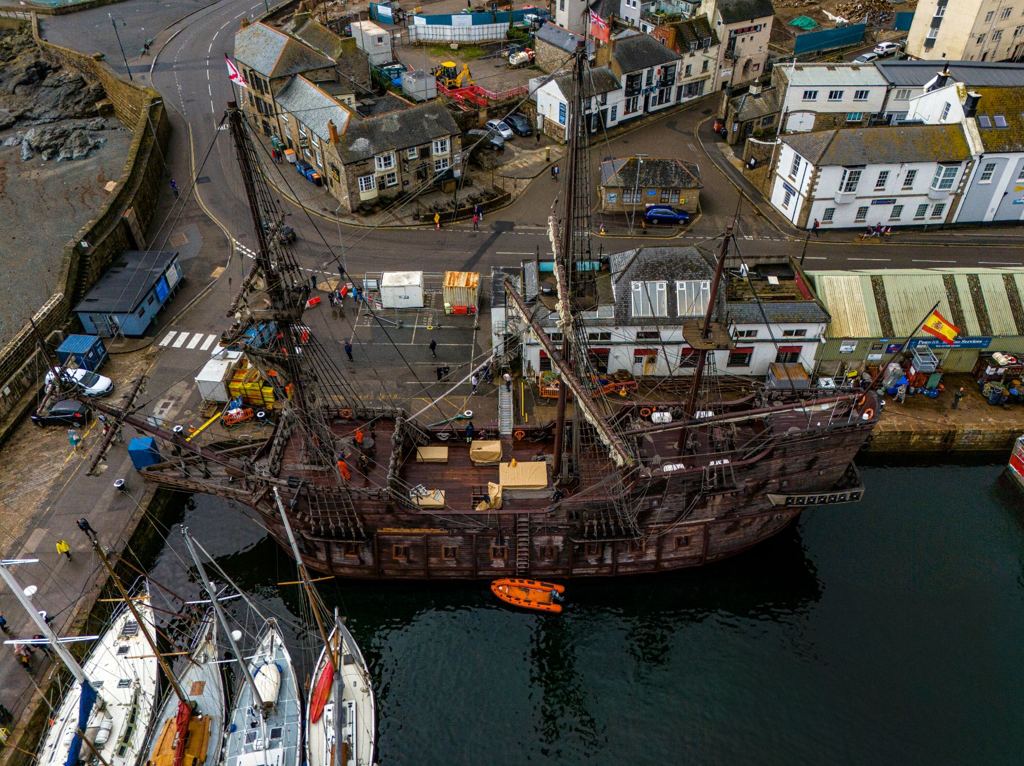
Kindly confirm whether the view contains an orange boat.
Yes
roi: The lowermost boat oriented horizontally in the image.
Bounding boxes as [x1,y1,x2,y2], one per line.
[490,580,572,615]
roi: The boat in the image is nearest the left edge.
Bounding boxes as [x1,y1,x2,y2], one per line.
[0,527,158,766]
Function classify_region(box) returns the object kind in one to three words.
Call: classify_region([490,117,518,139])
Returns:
car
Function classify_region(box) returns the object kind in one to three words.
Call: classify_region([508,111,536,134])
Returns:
car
